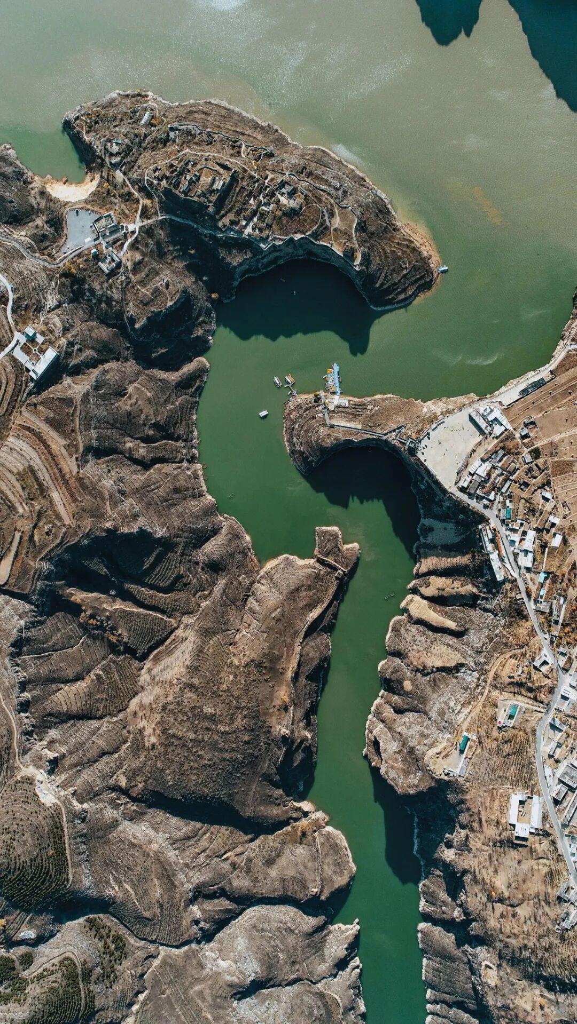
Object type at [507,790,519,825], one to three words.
house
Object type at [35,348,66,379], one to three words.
house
